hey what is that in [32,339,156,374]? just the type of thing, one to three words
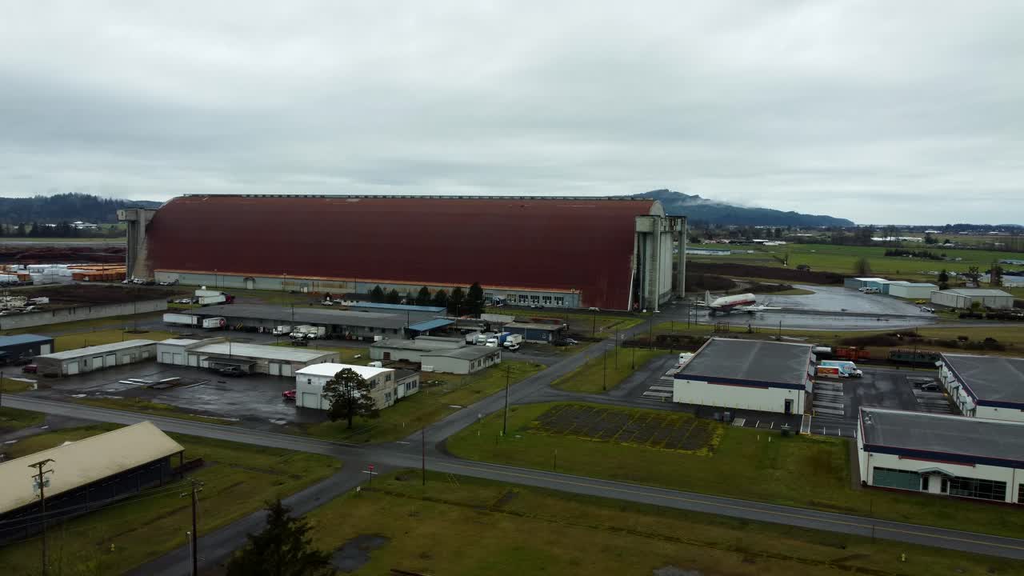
building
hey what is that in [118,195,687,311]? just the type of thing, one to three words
hangar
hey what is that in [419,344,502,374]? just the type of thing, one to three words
building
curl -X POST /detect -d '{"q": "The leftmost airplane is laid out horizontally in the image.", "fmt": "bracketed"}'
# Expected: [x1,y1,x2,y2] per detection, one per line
[686,289,782,312]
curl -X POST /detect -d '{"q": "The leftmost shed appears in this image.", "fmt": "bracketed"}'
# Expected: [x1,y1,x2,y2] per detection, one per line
[0,332,57,367]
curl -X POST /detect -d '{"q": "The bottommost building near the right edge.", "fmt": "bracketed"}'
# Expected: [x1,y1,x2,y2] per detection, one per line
[859,406,1024,506]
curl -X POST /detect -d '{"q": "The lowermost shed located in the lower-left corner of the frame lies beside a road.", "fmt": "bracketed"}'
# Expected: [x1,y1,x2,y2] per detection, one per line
[0,421,188,548]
